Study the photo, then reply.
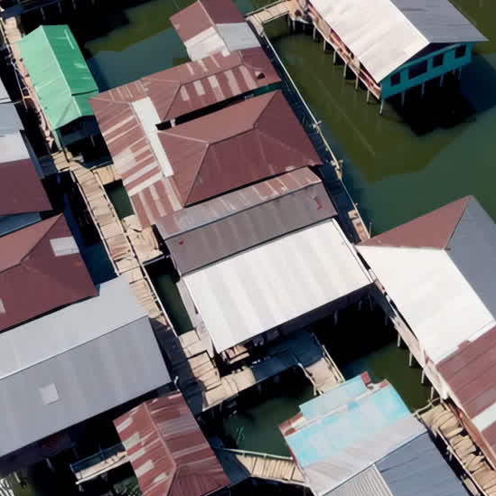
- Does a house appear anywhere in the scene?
Yes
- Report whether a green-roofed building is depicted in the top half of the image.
Yes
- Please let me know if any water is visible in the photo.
Yes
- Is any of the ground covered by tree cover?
No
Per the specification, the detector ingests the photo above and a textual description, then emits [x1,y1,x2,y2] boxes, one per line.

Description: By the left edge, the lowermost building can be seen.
[0,273,172,477]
